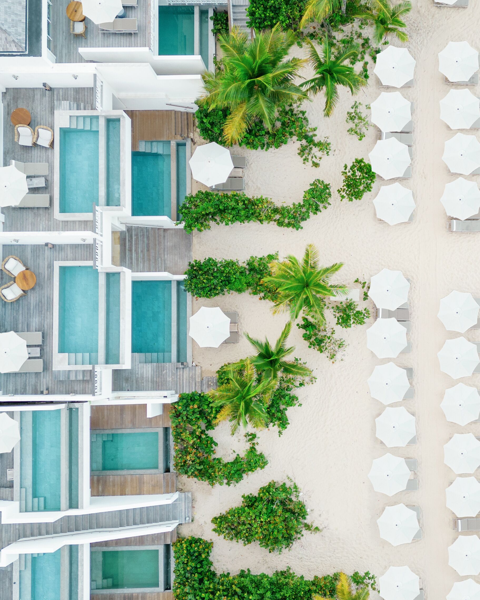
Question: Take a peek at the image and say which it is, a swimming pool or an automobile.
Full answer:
Of the two, only a swimming pool appears.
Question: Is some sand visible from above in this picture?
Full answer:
Yes, there is sand in the image.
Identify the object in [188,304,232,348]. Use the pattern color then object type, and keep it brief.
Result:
white umbrella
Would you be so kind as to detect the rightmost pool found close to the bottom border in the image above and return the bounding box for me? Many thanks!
[94,537,179,594]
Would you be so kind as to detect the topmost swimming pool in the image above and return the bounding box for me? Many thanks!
[154,3,215,80]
